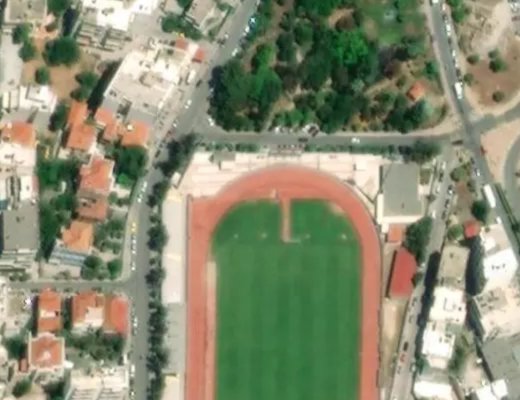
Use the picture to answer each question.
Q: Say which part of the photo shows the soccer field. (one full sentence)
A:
The soccer field is in the bottom part of the image.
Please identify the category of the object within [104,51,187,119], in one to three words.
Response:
building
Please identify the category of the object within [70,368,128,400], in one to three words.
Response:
building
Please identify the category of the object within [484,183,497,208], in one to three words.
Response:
vehicle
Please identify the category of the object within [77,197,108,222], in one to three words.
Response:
house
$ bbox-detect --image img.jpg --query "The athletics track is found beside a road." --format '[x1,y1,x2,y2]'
[188,168,381,400]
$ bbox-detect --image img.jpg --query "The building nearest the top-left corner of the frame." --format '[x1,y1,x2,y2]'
[5,0,47,29]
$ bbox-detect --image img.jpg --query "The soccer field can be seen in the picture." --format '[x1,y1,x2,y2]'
[213,201,362,400]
